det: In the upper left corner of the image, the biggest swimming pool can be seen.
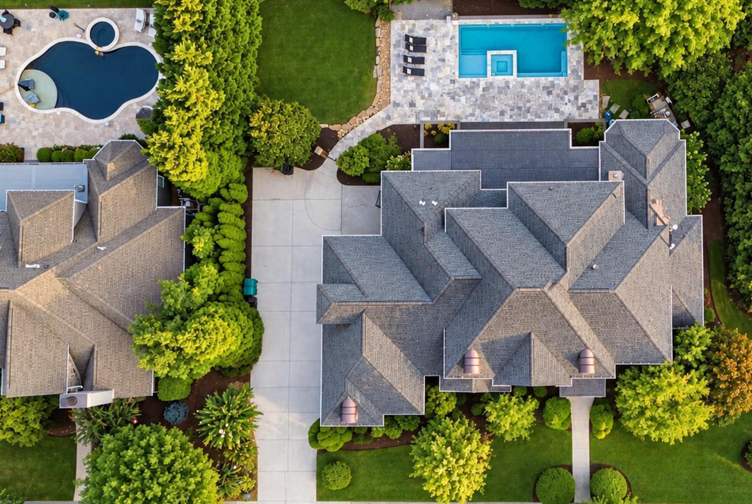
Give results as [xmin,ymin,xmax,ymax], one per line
[14,35,161,124]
